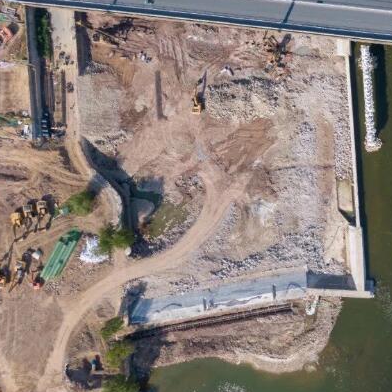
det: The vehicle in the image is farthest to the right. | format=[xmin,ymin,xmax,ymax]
[191,81,204,119]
